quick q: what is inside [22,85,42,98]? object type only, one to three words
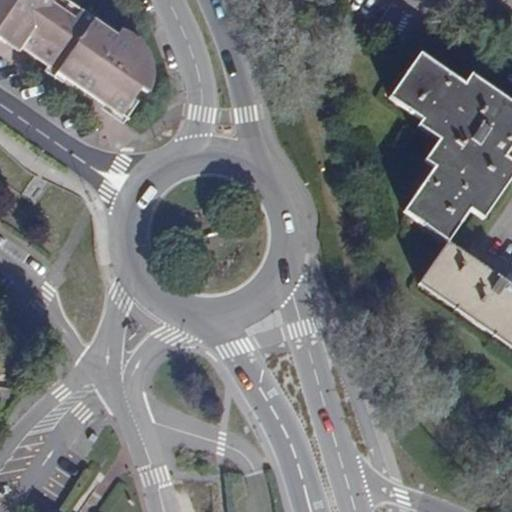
vehicle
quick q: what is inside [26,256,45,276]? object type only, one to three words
car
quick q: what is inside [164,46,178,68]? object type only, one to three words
vehicle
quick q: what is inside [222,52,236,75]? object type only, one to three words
car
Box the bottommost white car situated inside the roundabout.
[282,212,295,233]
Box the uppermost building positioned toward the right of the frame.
[386,51,512,242]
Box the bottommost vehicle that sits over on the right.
[319,410,334,432]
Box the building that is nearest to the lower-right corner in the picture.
[416,240,512,351]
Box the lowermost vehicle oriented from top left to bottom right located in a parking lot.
[60,457,83,476]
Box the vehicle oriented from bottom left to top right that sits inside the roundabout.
[137,183,158,208]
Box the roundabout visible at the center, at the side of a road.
[108,135,320,344]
